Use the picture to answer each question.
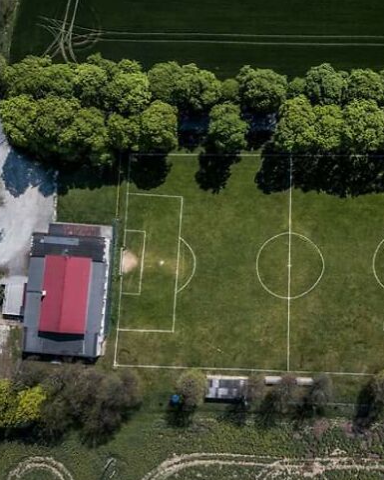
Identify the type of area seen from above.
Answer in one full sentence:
The picture captures a sports ground.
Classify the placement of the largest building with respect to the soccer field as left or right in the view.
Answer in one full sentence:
You can see the largest building positioned to the left of the soccer field.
